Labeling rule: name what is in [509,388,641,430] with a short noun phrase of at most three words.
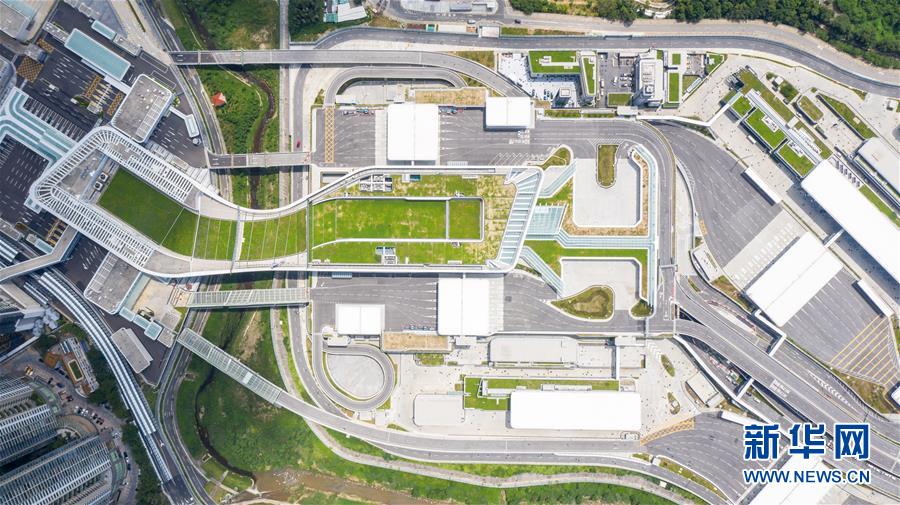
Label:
building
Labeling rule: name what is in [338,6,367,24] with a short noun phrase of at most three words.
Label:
shed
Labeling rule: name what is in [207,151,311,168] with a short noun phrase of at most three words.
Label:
bridge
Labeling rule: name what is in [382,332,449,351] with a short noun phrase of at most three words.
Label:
building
